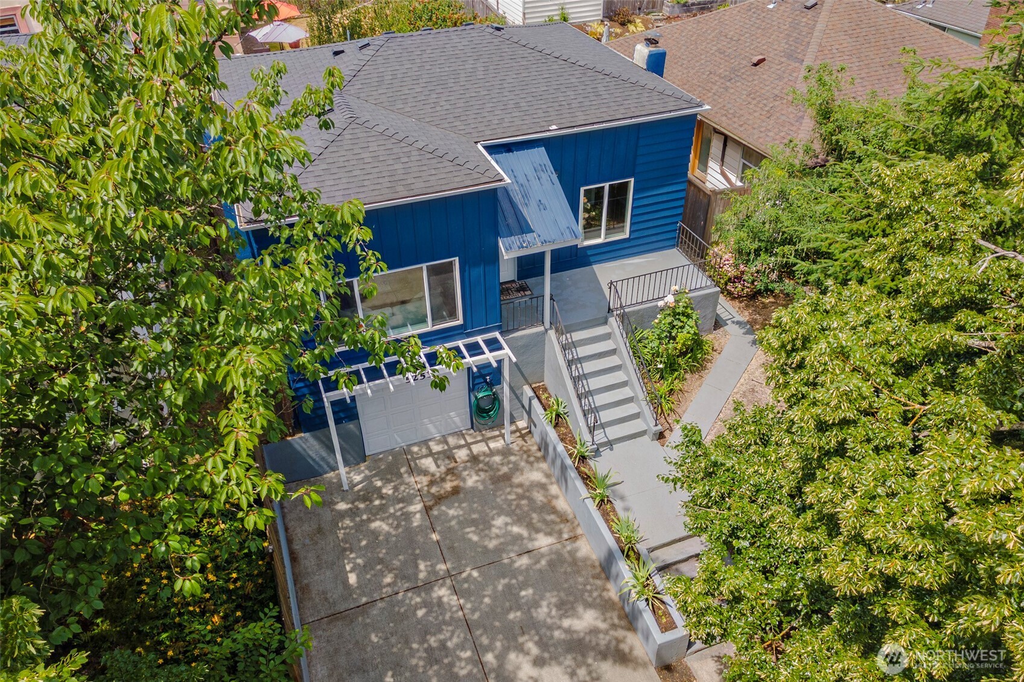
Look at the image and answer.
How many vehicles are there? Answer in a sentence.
No vehicles are visible.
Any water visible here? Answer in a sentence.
No, there is no water in the image.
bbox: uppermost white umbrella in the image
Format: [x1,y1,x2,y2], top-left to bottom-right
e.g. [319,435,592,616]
[247,21,314,52]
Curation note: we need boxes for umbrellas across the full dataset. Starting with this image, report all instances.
[247,21,314,52]
[240,0,300,28]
